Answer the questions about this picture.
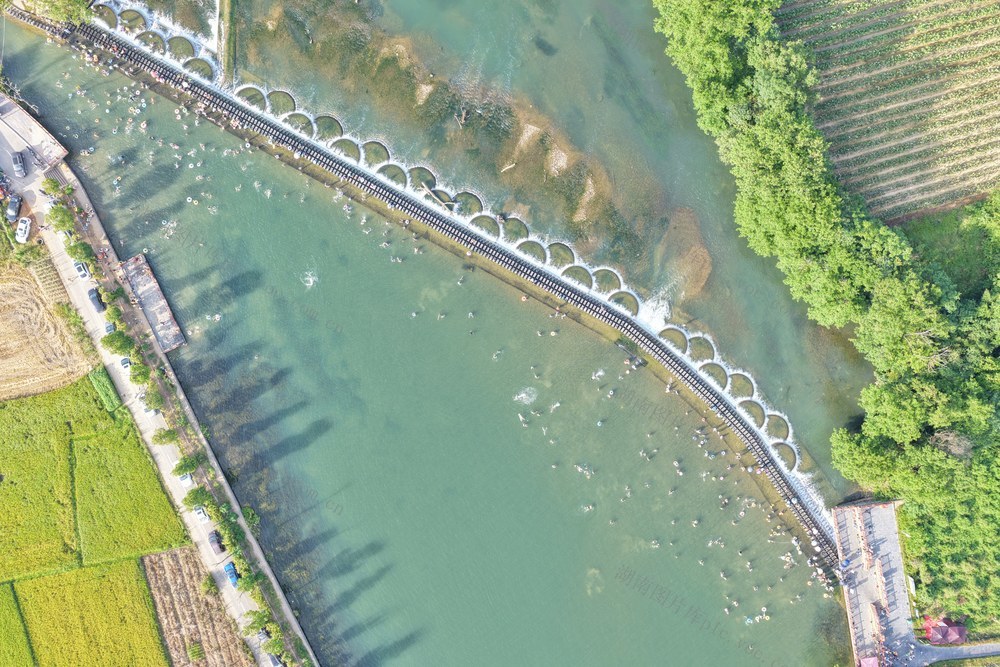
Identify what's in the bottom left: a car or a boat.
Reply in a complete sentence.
What appears in the bottom left is a car.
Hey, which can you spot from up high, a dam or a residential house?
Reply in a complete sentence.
Of the two, only a dam appears.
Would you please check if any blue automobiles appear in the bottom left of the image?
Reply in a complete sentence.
Yes, I can see a blue automobile in the bottom left of the image.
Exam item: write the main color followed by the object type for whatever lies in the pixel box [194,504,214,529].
white car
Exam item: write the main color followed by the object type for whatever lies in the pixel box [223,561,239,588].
blue car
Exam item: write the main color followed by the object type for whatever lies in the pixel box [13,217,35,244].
white car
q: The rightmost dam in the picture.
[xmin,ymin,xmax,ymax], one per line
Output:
[70,3,840,564]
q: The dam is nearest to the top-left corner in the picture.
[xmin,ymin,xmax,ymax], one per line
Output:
[0,7,79,57]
